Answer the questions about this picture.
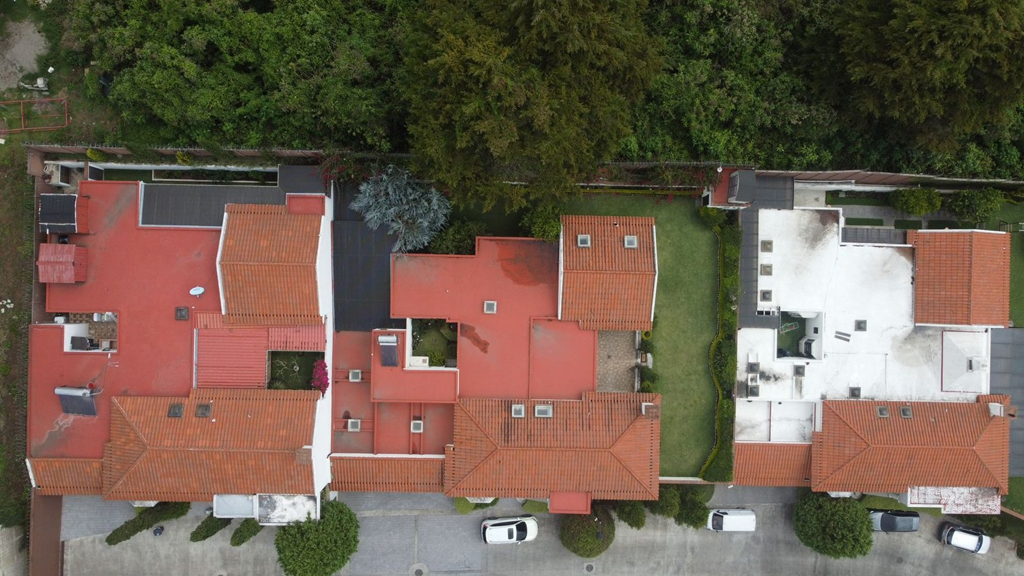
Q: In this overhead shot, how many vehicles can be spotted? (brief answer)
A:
4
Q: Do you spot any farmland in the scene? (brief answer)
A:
No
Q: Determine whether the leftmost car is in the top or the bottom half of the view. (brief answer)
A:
bottom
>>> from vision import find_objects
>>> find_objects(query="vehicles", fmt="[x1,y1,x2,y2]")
[864,505,923,535]
[705,505,761,535]
[480,513,539,544]
[937,518,995,556]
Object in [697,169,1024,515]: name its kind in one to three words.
house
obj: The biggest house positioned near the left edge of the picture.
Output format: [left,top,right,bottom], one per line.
[24,165,336,524]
